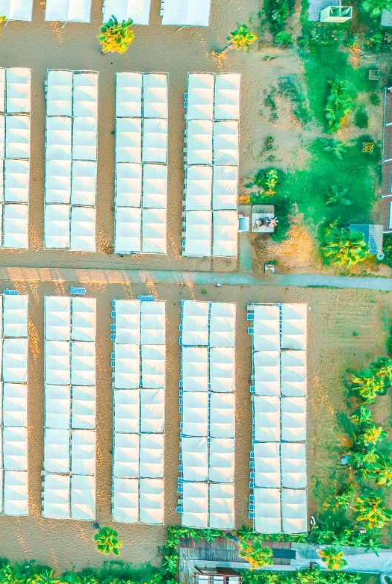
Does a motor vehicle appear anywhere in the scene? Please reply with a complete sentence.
No, I find no motor vehicle anywhere in the image.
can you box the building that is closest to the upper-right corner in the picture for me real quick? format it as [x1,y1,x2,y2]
[318,6,351,23]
